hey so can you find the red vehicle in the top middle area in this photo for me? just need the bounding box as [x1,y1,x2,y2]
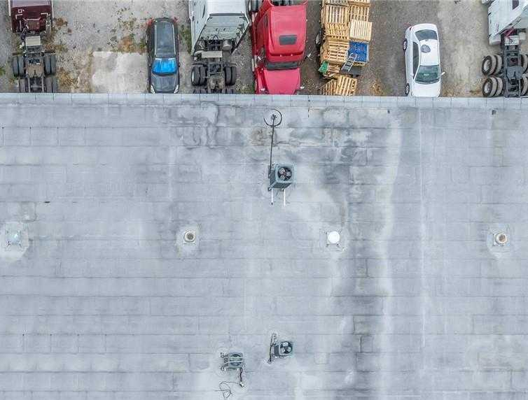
[253,0,314,95]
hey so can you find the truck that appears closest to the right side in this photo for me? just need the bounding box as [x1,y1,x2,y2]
[479,0,528,96]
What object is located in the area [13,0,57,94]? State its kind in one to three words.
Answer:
truck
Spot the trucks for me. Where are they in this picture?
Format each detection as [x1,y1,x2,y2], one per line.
[253,0,314,95]
[13,0,57,94]
[479,0,528,96]
[191,0,249,95]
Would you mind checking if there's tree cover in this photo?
No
